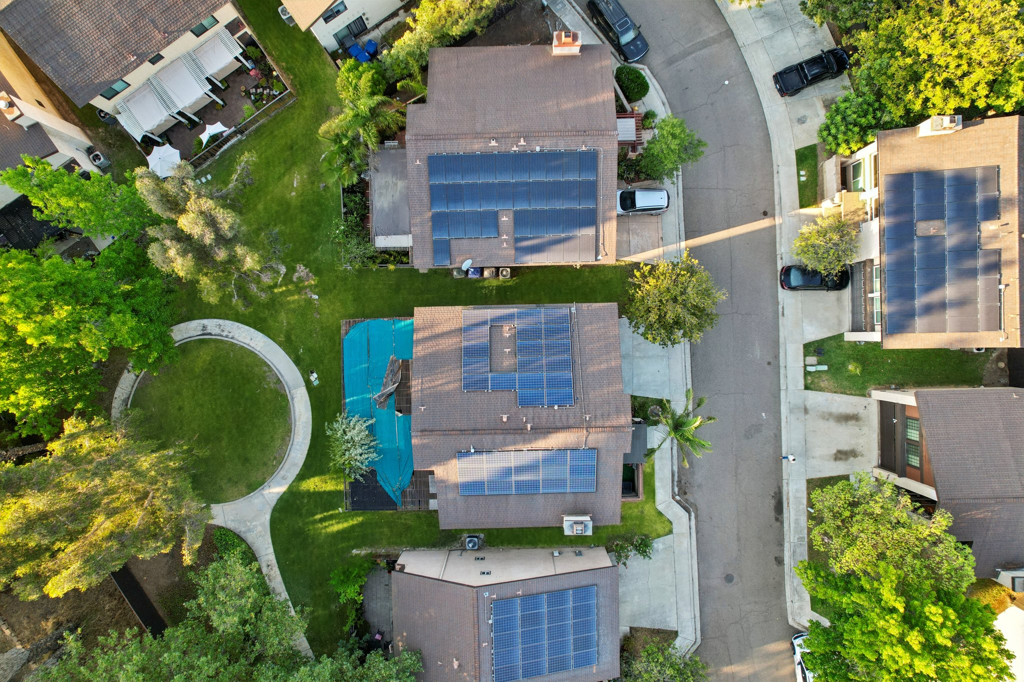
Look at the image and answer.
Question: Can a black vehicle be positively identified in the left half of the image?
No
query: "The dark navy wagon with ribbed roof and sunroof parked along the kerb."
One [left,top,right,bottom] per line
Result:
[591,0,646,62]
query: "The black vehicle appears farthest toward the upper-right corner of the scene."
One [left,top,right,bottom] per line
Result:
[770,45,855,99]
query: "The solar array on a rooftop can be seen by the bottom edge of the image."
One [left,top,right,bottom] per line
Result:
[484,586,597,682]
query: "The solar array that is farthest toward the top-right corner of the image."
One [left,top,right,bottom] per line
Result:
[884,165,1005,341]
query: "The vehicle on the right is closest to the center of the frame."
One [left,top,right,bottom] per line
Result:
[617,184,670,218]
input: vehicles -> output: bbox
[781,260,851,294]
[617,184,670,218]
[789,631,820,682]
[591,0,646,62]
[770,45,855,99]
